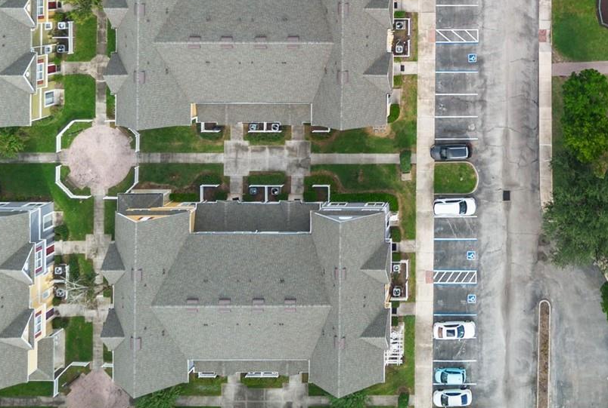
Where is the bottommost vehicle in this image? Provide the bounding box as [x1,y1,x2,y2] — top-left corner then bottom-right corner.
[433,388,472,408]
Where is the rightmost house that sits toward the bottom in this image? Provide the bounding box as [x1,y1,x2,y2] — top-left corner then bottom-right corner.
[104,189,392,397]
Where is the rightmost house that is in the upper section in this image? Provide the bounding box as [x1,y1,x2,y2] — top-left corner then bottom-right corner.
[107,0,394,132]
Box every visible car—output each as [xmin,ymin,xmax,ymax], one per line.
[433,320,475,341]
[433,388,472,408]
[434,197,476,218]
[430,143,471,163]
[436,366,468,387]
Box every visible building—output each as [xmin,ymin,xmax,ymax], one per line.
[0,200,66,390]
[104,189,392,397]
[0,0,55,130]
[107,0,394,132]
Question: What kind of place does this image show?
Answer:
residential area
